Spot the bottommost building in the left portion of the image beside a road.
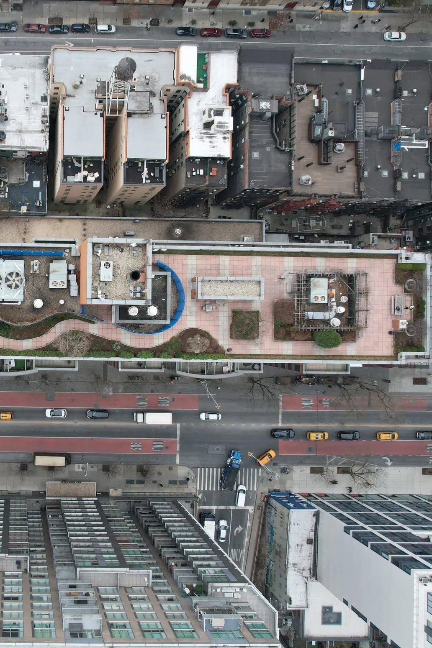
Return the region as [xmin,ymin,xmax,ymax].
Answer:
[0,477,280,648]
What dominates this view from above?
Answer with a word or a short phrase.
buildings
